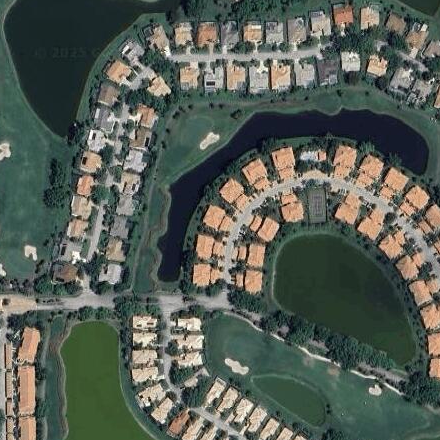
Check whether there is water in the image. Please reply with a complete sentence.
Yes, some water is visible.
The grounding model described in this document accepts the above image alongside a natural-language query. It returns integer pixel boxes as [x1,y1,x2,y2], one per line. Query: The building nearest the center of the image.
[200,203,234,234]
